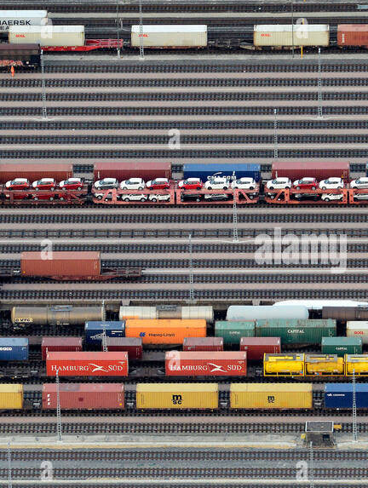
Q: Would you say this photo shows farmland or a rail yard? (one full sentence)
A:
It's a rail yard.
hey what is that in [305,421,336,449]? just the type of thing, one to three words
shed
